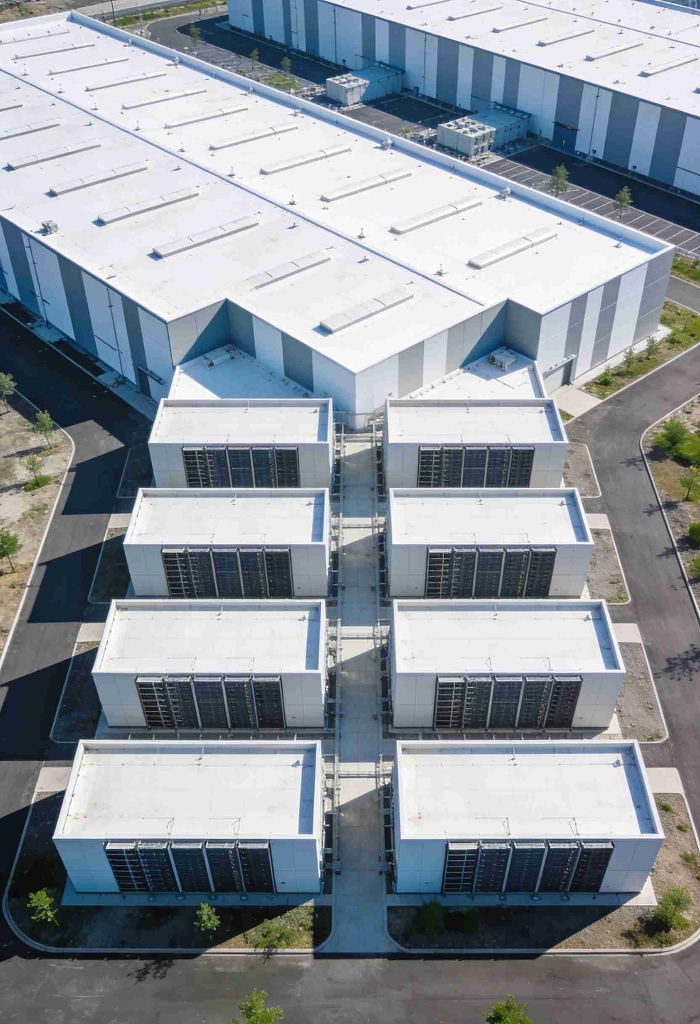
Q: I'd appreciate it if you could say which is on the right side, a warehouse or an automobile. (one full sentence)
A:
Looking on the right side, you will find a warehouse.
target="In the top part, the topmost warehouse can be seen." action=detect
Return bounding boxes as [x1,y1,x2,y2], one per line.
[231,0,700,197]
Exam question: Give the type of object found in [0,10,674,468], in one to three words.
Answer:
warehouse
